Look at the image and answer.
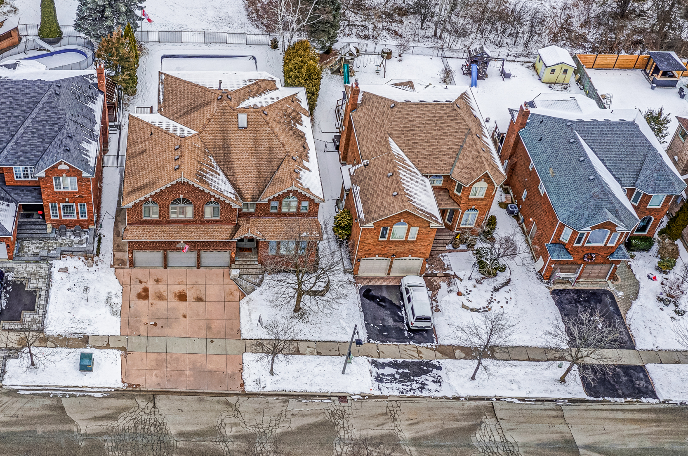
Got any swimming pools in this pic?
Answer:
Yes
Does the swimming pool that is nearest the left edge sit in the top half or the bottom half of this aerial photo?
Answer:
top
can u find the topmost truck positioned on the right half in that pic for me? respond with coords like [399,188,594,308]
[403,274,437,334]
